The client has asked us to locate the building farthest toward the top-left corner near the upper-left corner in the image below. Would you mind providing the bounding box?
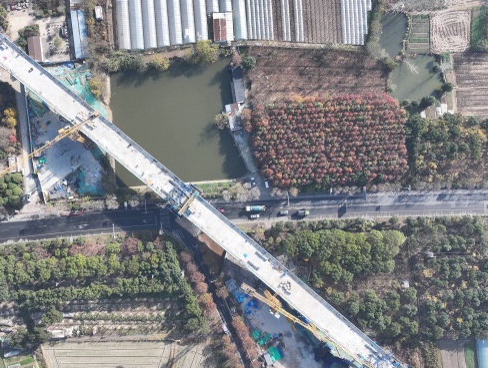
[26,34,45,62]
